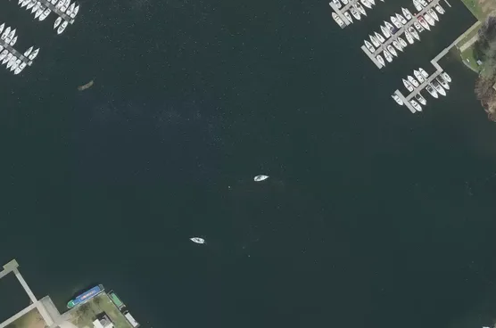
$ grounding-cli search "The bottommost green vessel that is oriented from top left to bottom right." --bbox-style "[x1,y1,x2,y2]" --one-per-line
[109,291,126,309]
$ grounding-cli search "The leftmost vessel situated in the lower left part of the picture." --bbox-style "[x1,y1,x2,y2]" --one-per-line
[67,285,105,306]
